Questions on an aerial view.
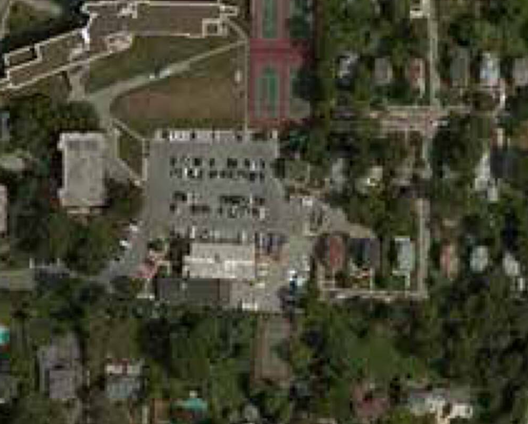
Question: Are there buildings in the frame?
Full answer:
Yes, a building appears in the view.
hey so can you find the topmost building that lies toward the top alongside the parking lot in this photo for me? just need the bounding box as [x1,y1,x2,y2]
[0,1,236,90]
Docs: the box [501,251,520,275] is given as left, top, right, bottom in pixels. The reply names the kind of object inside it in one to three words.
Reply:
house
